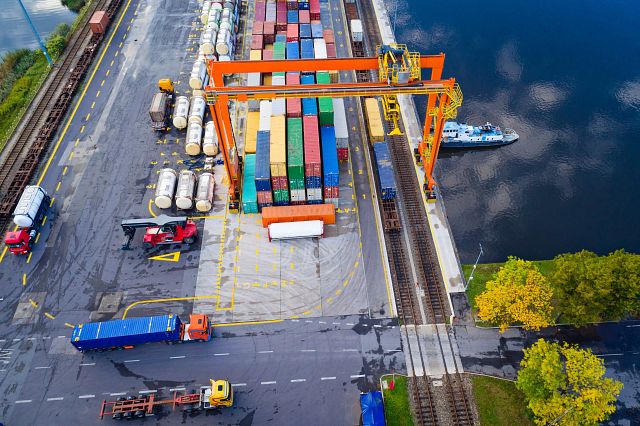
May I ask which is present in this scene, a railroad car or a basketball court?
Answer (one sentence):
I can see a railroad car in this picture.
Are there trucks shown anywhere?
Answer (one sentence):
Yes, a truck is visible in the scene.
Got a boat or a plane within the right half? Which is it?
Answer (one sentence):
There is a boat within the right half.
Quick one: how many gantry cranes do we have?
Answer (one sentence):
In total, 1 gantry crane can be seen.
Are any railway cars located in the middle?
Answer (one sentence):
Yes, a railway car appears in the middle.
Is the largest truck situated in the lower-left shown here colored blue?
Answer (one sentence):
Yes, the largest truck situated in the lower-left is indeed blue.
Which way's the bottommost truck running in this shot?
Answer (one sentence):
Seen from above, the bottommost truck lies from side to side.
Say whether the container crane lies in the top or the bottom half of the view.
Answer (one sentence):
The top half of the photo is where the container crane is.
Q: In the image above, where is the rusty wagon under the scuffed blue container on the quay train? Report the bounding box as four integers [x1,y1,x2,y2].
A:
[373,162,399,226]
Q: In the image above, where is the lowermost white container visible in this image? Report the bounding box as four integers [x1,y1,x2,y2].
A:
[268,216,323,242]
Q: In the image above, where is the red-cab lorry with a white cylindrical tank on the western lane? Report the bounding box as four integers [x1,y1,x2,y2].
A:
[3,186,52,257]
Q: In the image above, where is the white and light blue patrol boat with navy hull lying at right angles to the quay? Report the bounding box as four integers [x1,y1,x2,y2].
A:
[429,117,518,149]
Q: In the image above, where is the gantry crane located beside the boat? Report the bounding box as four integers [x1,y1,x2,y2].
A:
[197,43,469,217]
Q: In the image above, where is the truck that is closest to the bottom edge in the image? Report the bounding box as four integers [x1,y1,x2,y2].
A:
[98,382,231,420]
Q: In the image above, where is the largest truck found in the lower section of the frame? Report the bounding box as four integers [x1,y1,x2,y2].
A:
[70,315,212,354]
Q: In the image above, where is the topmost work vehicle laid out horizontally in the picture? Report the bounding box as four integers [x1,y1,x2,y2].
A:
[114,217,198,250]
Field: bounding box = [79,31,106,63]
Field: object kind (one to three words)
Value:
rail car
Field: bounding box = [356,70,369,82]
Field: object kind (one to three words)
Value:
rail car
